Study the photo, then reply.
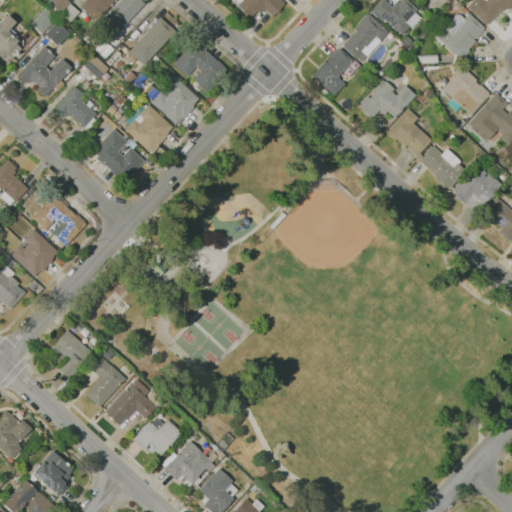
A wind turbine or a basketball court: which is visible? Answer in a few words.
basketball court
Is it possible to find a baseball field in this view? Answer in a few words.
Yes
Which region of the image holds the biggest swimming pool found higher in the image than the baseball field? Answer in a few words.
top right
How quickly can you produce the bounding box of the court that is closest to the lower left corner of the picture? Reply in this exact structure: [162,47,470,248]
[174,323,224,372]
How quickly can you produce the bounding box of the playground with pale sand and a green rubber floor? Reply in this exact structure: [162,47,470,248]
[212,193,264,243]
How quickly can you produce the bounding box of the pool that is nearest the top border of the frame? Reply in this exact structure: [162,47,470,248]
[366,42,390,64]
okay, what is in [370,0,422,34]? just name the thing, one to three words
house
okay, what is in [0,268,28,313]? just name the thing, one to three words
house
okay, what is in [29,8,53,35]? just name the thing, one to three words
building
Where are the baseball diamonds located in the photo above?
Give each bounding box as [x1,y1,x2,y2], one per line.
[278,178,377,269]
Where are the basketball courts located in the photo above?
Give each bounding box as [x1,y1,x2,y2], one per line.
[196,302,246,350]
[174,323,224,372]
